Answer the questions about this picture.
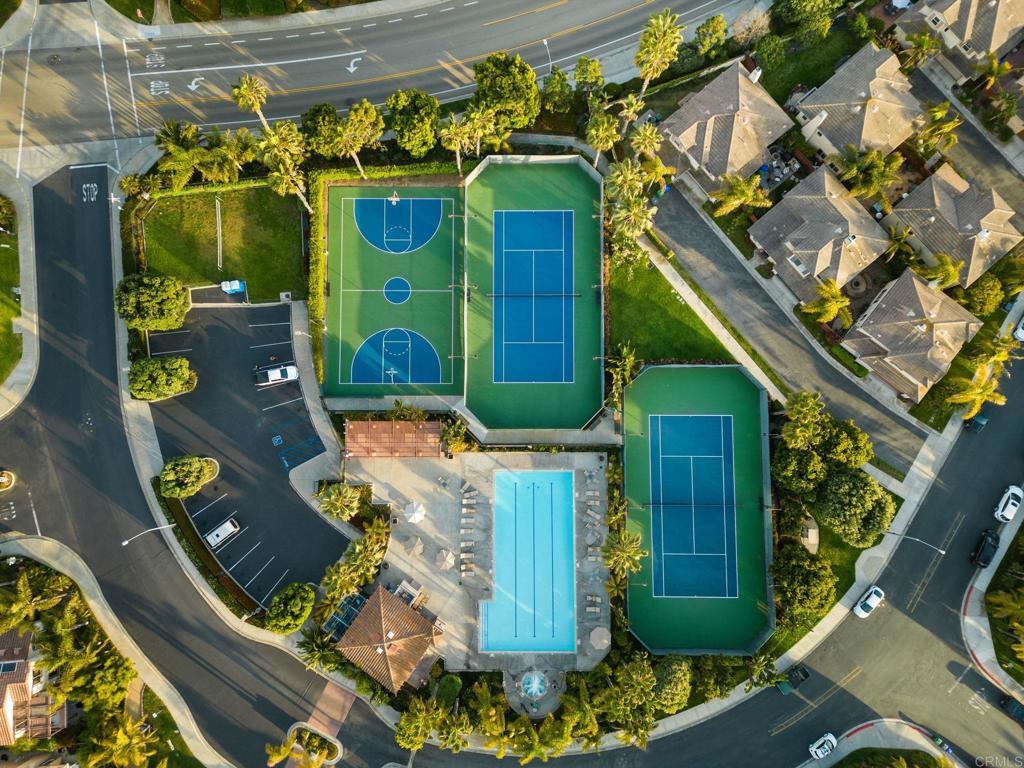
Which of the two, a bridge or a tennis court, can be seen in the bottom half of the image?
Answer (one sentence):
The feature located in the bottom half of the image is a tennis court.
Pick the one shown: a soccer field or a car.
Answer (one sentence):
Visible in the photo is a car.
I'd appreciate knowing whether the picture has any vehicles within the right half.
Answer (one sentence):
Yes, a vehicle shows up within the right half.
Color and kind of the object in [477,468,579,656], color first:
blue swimming pool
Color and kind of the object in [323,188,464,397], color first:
green basketball court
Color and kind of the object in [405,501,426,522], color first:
white umbrella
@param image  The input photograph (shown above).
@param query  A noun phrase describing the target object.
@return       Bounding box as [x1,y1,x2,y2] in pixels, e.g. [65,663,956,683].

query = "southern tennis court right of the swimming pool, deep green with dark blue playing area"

[622,365,776,656]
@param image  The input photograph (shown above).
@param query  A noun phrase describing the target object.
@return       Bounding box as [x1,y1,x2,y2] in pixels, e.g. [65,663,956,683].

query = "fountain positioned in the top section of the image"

[847,274,867,293]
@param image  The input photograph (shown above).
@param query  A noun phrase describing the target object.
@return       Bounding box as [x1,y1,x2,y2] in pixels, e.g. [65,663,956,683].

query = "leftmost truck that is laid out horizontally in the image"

[251,365,296,387]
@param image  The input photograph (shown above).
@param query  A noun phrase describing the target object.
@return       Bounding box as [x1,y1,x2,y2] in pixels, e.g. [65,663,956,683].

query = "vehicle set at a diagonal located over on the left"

[198,517,240,551]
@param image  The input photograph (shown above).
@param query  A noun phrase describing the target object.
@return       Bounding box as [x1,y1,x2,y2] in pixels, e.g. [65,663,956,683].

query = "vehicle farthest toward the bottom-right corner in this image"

[999,693,1024,724]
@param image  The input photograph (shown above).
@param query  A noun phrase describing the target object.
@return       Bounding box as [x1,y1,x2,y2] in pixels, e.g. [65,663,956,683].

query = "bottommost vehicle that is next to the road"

[808,733,841,763]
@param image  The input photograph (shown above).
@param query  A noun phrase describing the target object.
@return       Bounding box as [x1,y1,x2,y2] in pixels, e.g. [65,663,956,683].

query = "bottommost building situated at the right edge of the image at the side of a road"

[837,267,984,401]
